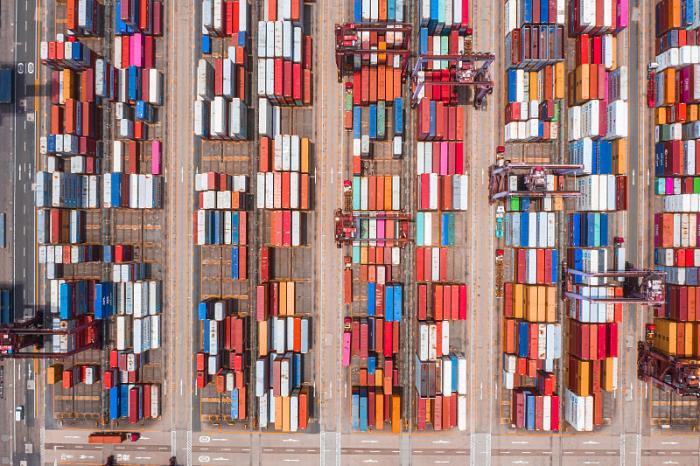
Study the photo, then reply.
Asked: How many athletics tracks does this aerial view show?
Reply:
0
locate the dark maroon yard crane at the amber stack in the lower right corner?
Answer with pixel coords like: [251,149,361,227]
[639,342,700,395]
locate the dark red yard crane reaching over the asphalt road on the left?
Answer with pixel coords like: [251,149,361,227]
[0,310,103,357]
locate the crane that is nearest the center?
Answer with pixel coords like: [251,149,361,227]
[334,208,414,249]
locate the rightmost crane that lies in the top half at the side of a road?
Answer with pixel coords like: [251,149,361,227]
[492,161,586,204]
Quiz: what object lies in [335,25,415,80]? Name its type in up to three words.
crane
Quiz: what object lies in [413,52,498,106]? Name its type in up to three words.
crane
